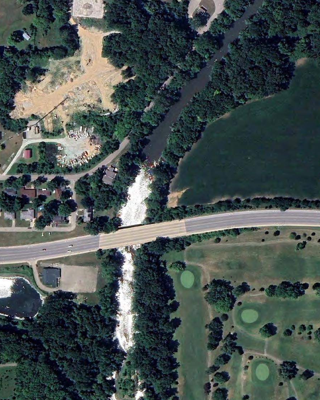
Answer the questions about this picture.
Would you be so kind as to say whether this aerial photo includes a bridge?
Yes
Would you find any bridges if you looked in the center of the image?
Yes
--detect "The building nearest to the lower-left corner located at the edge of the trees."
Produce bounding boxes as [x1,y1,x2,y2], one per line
[42,267,61,287]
